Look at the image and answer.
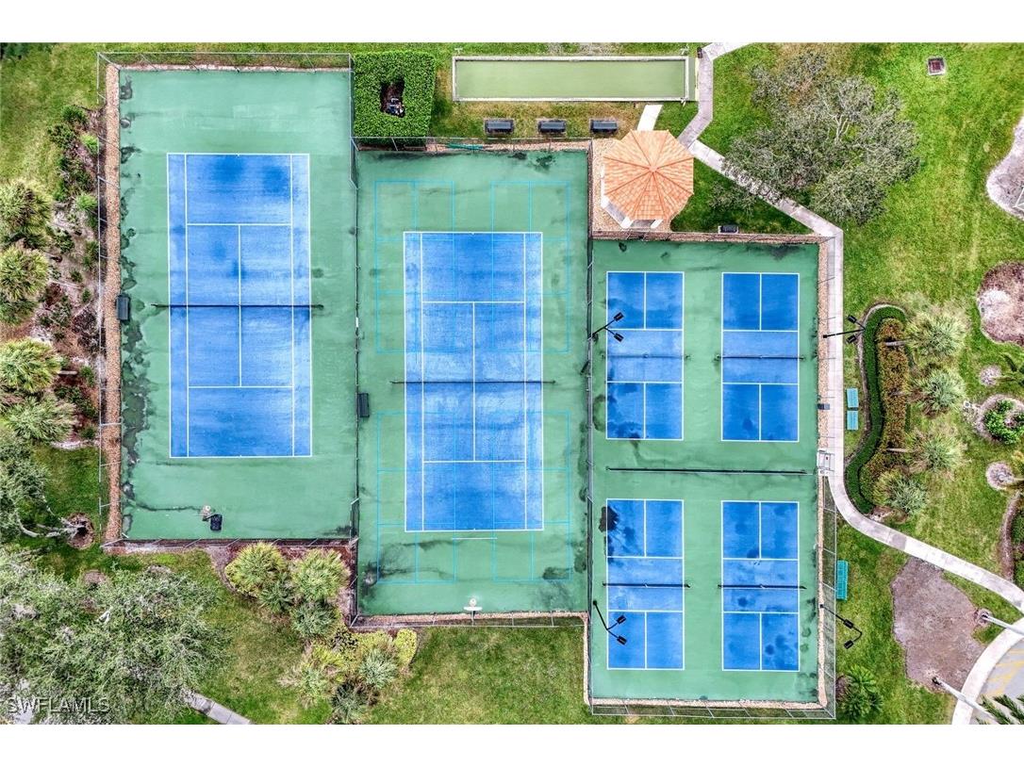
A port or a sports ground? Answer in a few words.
sports ground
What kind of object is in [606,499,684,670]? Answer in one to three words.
sports court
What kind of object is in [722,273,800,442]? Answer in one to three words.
sports court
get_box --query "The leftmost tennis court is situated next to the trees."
[119,70,359,540]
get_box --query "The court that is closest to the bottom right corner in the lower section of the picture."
[722,501,800,672]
